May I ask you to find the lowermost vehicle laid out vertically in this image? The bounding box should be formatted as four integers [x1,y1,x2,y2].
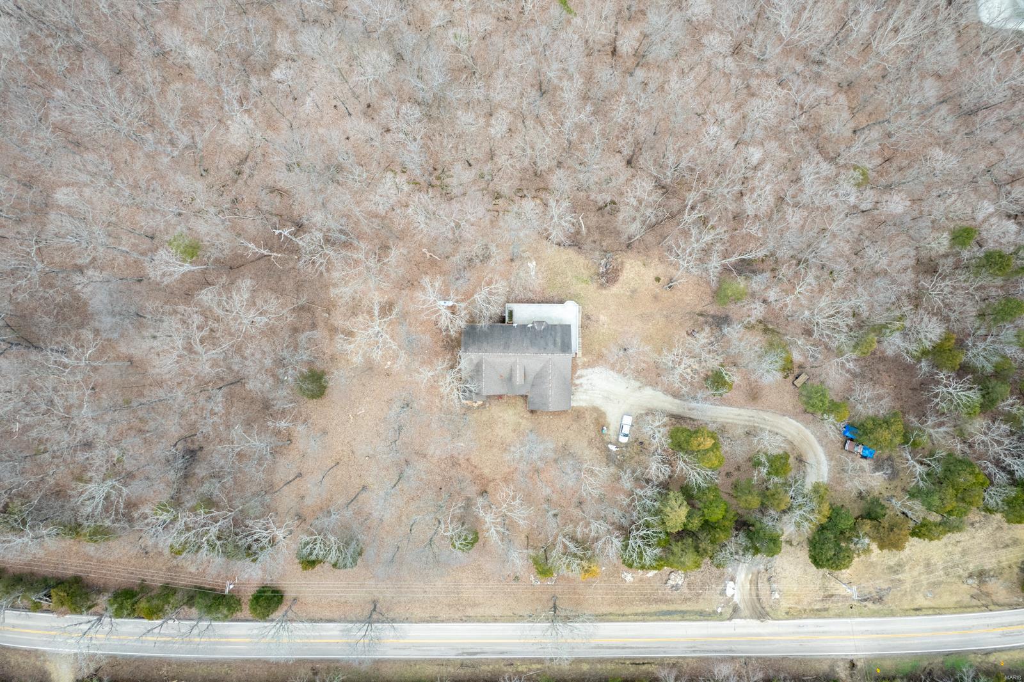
[617,414,632,442]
